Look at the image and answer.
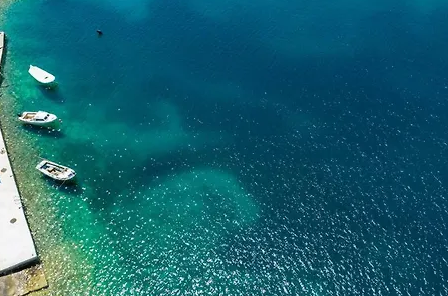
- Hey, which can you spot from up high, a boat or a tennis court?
boat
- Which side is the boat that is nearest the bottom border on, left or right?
left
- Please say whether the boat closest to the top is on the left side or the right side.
left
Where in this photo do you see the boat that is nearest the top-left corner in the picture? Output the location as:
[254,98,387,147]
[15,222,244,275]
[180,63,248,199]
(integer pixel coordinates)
[25,62,68,86]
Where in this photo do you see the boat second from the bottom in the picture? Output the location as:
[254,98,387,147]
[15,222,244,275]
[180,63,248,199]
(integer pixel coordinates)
[5,109,66,125]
